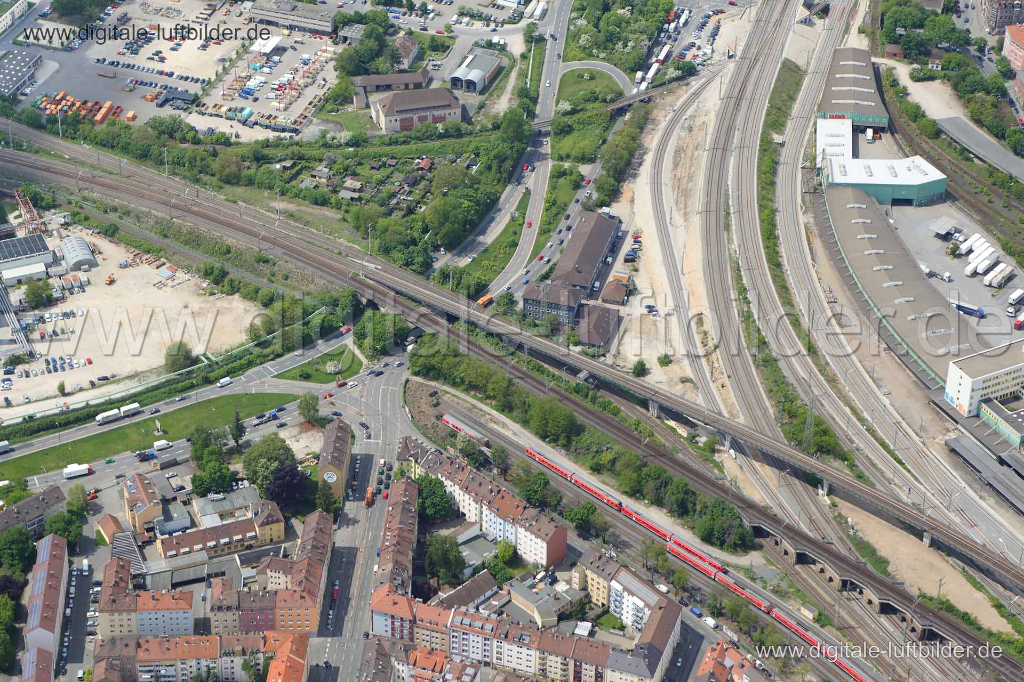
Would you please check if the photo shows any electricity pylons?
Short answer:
Yes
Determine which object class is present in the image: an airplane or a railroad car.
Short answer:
railroad car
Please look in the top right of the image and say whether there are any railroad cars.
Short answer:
No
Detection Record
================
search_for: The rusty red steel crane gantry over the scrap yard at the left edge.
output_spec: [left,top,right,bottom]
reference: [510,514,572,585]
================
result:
[0,186,42,241]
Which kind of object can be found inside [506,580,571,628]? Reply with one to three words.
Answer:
building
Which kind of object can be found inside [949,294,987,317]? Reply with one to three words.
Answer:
truck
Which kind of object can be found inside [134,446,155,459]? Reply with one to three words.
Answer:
vehicle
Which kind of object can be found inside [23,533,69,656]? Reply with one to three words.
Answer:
house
